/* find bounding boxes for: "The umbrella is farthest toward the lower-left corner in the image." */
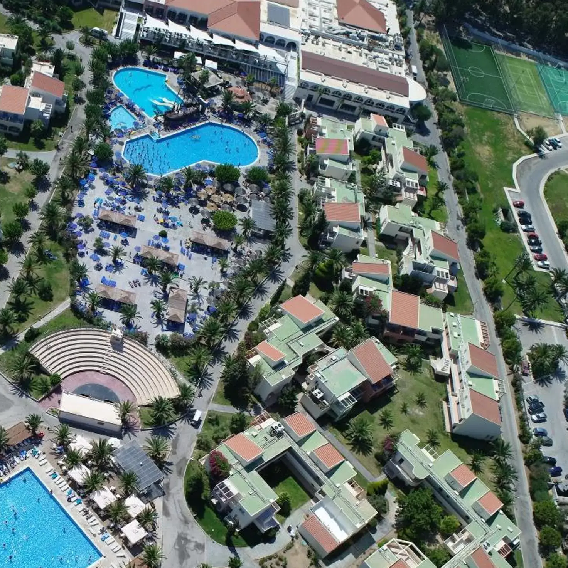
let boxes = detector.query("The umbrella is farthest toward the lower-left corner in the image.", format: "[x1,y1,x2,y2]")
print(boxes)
[106,435,123,449]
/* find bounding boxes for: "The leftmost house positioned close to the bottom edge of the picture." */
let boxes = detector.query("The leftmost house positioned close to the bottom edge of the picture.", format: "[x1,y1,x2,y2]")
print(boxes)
[204,411,370,565]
